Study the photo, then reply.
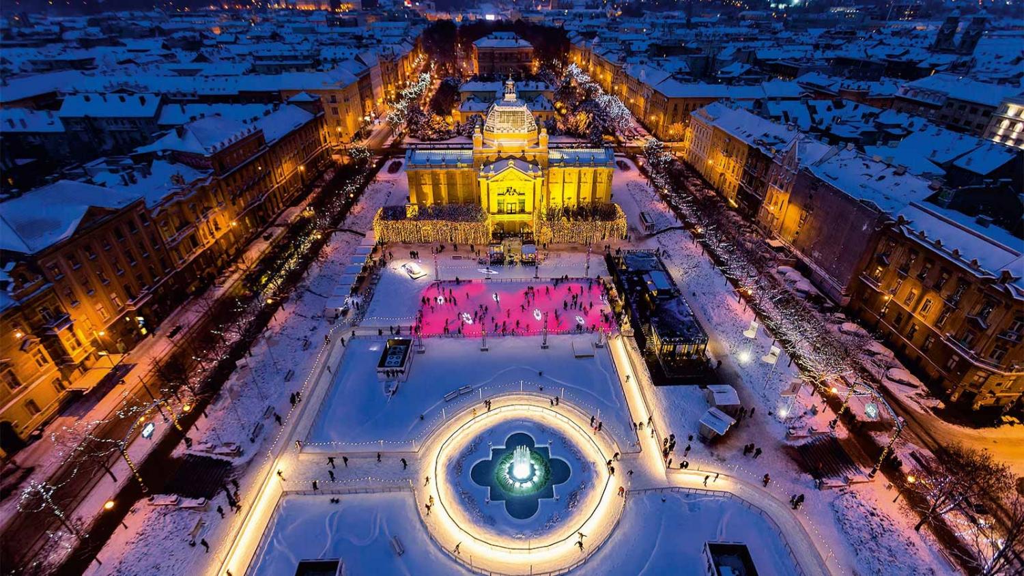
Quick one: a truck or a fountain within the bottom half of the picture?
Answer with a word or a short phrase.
fountain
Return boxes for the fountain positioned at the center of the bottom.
[470,430,574,518]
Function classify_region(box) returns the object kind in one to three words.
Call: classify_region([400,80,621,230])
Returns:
building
